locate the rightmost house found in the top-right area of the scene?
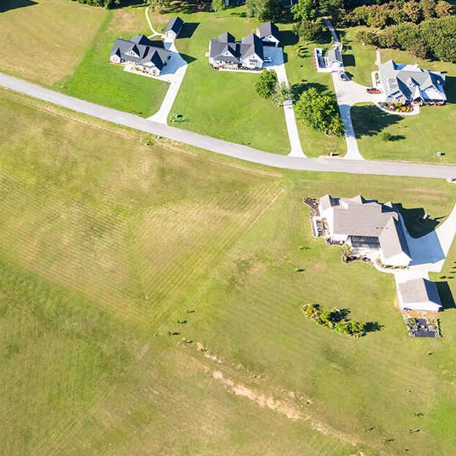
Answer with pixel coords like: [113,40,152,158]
[373,59,446,110]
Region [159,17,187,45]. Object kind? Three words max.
building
